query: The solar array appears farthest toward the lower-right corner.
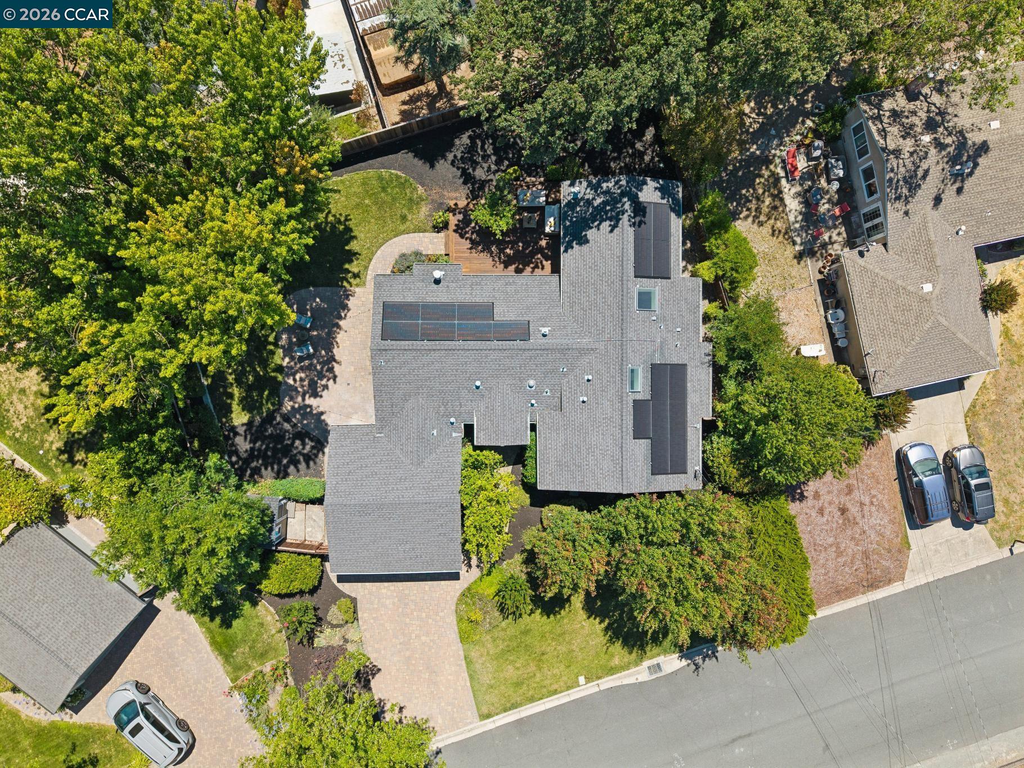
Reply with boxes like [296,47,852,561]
[631,363,688,475]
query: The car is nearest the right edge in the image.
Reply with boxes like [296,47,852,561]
[944,444,998,524]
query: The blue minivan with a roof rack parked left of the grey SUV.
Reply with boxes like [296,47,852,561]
[897,439,956,529]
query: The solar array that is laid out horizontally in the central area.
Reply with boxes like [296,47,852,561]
[382,302,530,342]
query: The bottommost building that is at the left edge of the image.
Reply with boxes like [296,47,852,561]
[0,519,154,714]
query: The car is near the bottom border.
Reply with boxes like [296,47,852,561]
[109,681,191,765]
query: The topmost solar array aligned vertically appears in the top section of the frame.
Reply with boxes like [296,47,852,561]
[632,202,670,279]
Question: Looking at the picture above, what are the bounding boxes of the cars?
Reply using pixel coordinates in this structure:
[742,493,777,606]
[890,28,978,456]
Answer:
[897,439,956,529]
[944,444,998,524]
[109,681,191,765]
